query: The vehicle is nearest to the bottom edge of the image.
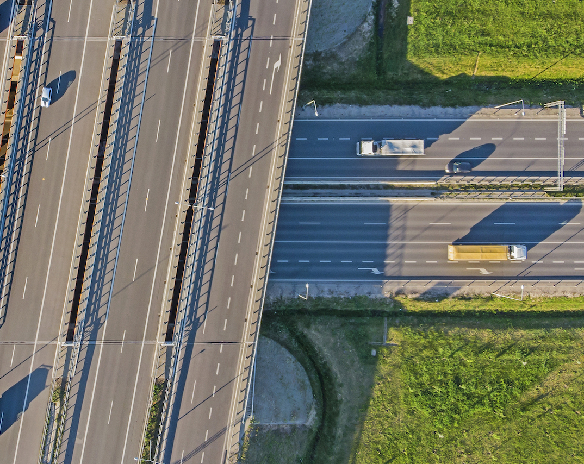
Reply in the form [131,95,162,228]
[447,244,525,261]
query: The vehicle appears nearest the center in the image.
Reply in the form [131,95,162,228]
[357,140,424,156]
